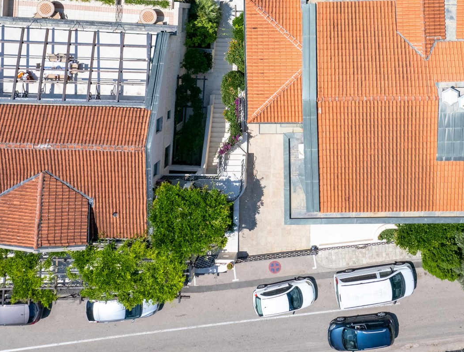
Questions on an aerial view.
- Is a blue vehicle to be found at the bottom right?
Yes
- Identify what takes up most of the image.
buildings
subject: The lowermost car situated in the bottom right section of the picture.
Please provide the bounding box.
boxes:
[326,310,396,352]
